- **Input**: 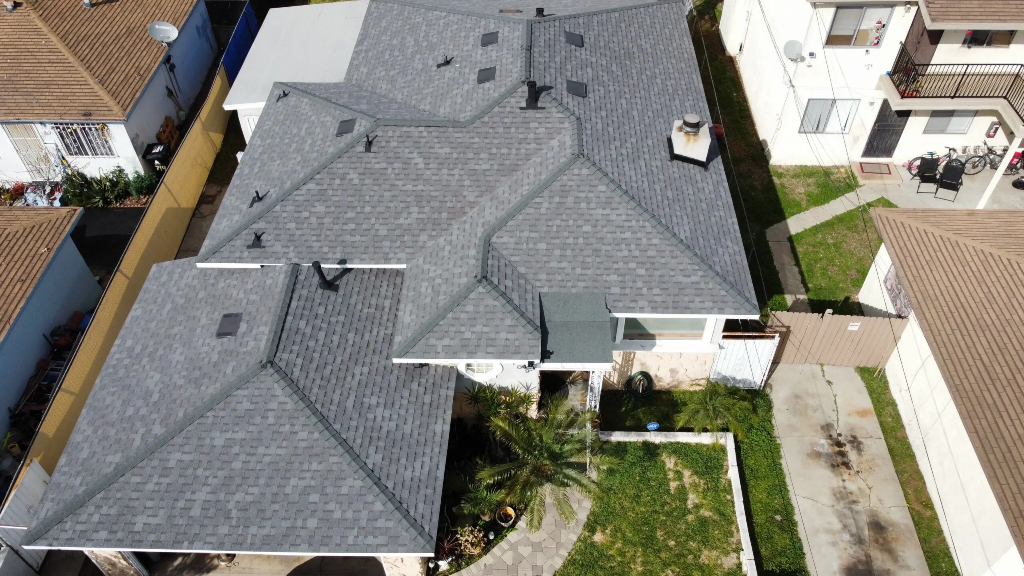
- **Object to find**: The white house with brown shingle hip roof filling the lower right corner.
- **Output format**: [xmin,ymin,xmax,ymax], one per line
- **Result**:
[859,205,1024,576]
